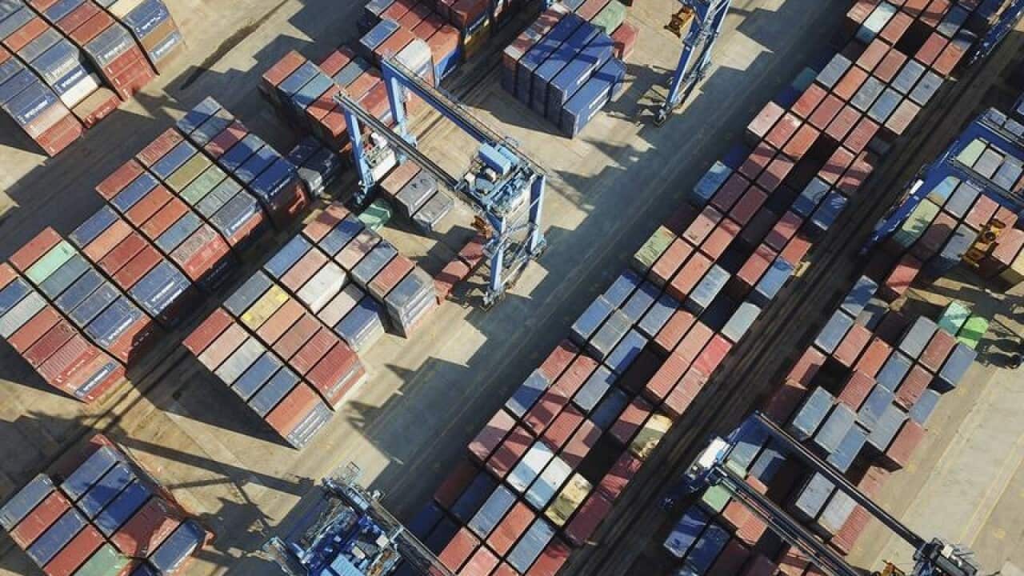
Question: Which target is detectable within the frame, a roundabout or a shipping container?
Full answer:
Visible in the photo is a shipping container.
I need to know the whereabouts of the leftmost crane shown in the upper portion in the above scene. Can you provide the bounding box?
[333,47,562,310]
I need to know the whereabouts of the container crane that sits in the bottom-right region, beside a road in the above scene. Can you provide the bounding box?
[655,404,997,576]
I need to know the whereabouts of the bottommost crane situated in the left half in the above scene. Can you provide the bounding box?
[251,465,449,576]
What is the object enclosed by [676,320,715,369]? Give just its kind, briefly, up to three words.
shipping container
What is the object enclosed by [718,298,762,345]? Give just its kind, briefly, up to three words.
shipping container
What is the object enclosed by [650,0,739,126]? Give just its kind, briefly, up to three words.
container crane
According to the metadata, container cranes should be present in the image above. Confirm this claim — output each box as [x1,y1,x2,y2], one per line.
[655,404,997,576]
[251,465,449,576]
[860,113,1024,263]
[333,47,562,310]
[650,0,739,126]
